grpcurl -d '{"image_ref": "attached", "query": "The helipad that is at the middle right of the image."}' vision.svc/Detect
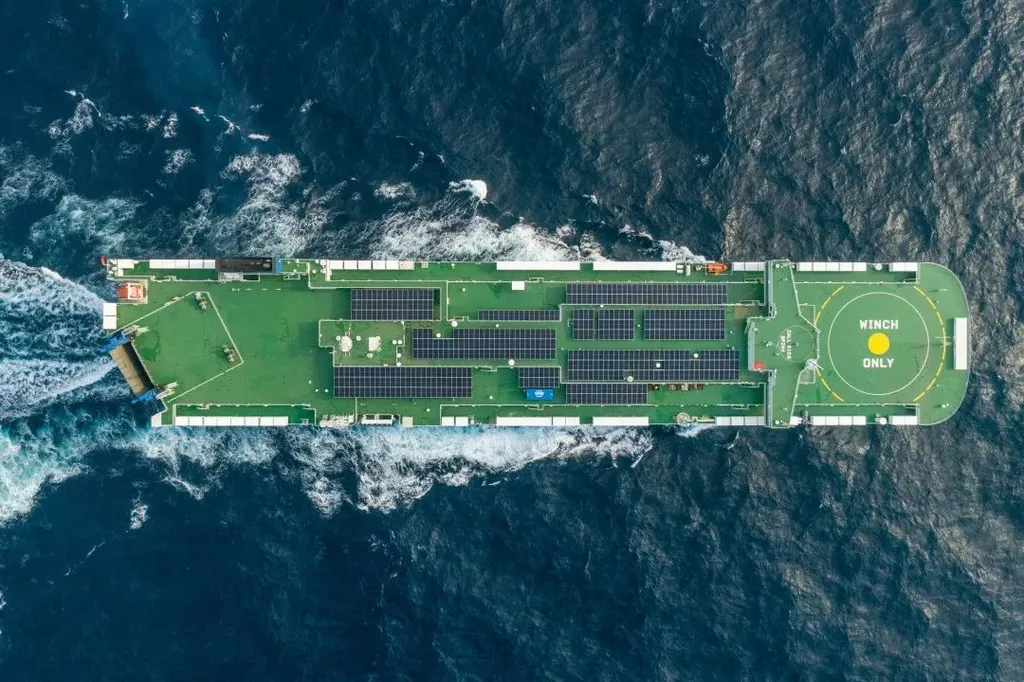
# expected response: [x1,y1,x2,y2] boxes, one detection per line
[814,284,948,403]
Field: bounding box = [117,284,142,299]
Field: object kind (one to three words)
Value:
boat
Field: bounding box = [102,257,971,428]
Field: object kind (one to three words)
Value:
ship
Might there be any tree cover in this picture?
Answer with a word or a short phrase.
No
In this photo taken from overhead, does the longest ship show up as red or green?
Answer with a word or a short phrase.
green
